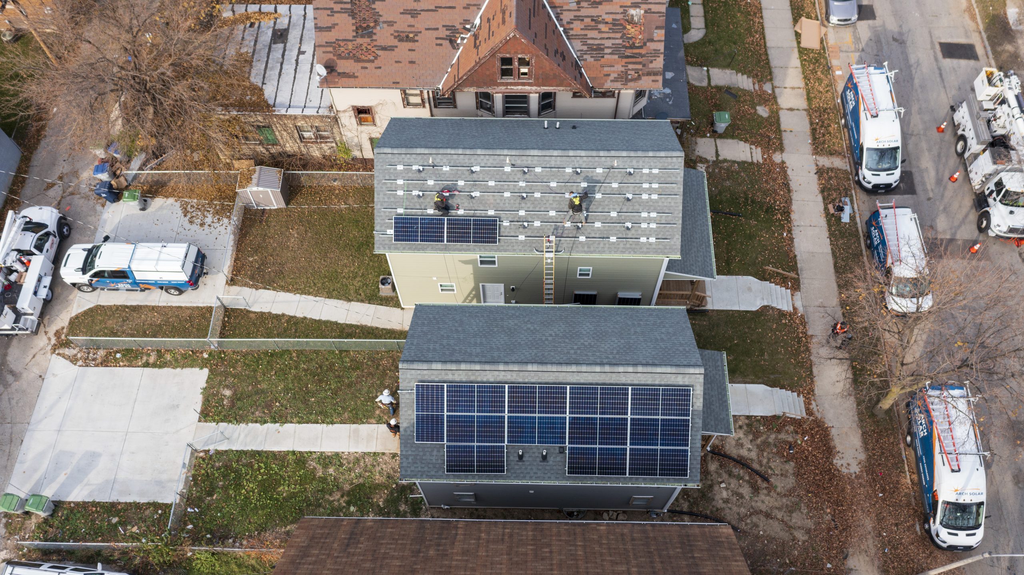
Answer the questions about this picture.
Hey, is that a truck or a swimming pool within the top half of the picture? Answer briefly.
truck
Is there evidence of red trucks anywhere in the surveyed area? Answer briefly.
No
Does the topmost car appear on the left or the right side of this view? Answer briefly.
right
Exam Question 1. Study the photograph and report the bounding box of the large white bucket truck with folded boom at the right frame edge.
[940,41,1024,248]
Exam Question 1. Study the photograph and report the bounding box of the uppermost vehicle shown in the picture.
[825,0,861,21]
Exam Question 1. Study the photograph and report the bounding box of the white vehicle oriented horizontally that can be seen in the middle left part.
[55,233,205,293]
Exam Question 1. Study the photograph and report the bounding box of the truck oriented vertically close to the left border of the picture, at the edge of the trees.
[0,205,69,360]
